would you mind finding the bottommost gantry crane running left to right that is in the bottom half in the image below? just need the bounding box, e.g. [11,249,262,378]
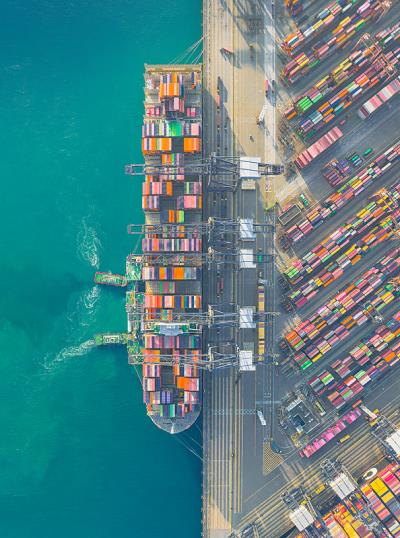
[126,337,281,372]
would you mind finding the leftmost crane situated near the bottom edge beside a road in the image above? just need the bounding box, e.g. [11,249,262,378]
[279,481,330,538]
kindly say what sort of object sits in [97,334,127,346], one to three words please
boat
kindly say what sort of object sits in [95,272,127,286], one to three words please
boat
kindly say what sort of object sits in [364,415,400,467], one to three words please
container crane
